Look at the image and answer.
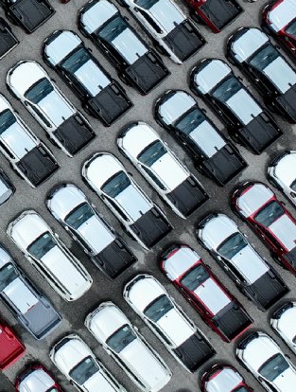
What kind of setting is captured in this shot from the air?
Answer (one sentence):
This looks like a parking lot.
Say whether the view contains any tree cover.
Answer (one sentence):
No, there is no tree cover in the image.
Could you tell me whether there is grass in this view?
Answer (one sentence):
No, grass can't be seen anywhere here.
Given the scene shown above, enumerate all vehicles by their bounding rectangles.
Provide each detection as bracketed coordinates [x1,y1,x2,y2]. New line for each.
[0,93,64,192]
[4,59,99,162]
[0,0,58,38]
[78,0,173,99]
[47,183,142,284]
[226,26,296,128]
[231,180,296,280]
[190,58,287,160]
[123,271,220,374]
[258,304,296,369]
[0,247,64,344]
[195,212,294,313]
[52,336,126,392]
[43,28,137,131]
[16,368,65,392]
[154,89,252,190]
[256,0,296,69]
[201,363,254,392]
[235,331,296,392]
[0,314,28,373]
[254,154,296,221]
[182,0,246,37]
[116,121,214,222]
[9,212,95,305]
[81,153,176,257]
[118,0,210,68]
[86,304,174,392]
[159,243,255,346]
